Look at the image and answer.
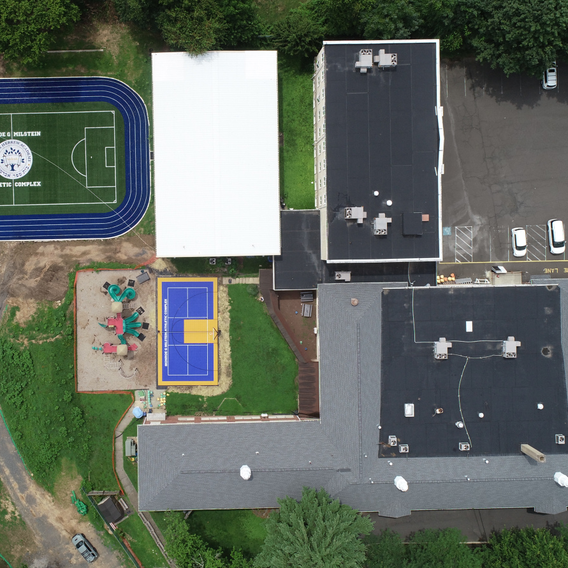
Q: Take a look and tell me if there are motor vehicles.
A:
Yes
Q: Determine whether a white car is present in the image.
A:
Yes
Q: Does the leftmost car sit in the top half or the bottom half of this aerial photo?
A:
bottom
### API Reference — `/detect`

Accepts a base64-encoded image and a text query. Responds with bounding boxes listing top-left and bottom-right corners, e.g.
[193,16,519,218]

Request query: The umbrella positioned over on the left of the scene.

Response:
[131,404,146,418]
